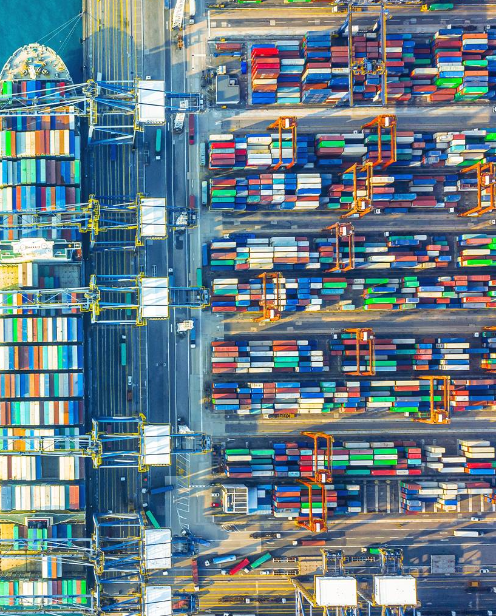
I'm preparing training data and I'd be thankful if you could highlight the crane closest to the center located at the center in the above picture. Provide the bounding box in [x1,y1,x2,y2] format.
[251,271,282,325]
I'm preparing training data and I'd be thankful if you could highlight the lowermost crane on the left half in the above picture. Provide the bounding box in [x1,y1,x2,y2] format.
[0,561,215,616]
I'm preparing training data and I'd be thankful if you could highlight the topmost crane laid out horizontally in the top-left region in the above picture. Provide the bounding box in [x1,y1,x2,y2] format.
[0,77,208,162]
